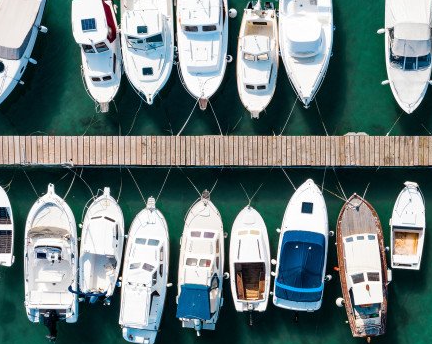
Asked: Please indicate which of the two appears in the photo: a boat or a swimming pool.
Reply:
boat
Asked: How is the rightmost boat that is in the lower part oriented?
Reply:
vertically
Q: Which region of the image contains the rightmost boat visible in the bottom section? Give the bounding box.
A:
[390,182,426,269]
